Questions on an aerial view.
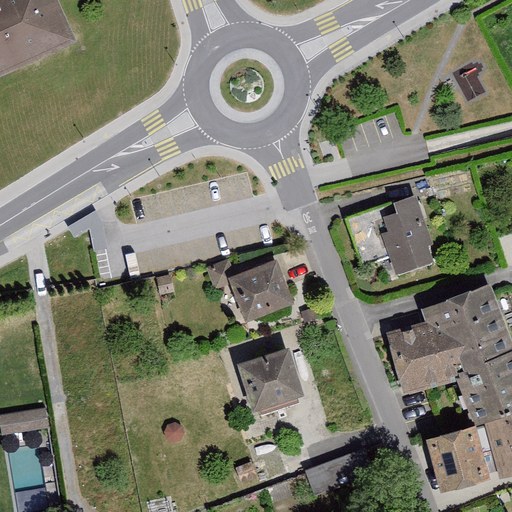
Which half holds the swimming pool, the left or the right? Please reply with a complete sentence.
You can find the swimming pool on the left side of the picture.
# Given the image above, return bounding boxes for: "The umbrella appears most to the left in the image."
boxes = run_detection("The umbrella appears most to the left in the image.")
[2,435,20,453]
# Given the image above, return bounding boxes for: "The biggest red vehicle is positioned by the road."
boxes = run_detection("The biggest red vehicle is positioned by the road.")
[288,266,308,278]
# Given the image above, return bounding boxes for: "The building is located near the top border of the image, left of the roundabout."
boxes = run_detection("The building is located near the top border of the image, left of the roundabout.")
[0,0,76,76]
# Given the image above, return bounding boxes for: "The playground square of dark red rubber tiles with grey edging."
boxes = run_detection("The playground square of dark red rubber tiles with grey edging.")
[440,59,488,103]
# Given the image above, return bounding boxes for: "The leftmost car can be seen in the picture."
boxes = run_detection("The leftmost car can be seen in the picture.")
[35,271,48,296]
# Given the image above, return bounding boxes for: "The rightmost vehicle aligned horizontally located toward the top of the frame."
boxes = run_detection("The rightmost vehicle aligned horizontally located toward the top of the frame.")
[387,187,410,200]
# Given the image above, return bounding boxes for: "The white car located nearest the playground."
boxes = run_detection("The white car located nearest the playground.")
[376,118,390,137]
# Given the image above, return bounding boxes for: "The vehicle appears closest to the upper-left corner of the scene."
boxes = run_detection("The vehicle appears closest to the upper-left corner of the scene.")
[134,199,146,221]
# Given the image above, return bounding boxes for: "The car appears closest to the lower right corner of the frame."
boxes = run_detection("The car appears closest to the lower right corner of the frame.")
[426,468,439,490]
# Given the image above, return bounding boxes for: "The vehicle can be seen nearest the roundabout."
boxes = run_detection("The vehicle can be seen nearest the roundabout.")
[208,179,220,202]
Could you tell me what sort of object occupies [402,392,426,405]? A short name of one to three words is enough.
vehicle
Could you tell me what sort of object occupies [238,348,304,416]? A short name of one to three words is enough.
house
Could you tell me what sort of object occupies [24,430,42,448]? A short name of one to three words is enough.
umbrella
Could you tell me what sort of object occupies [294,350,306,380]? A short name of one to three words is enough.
boat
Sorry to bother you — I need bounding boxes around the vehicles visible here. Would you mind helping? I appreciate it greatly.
[208,179,220,202]
[125,252,140,276]
[376,118,390,137]
[35,271,48,296]
[426,468,439,490]
[288,266,308,278]
[260,222,272,244]
[134,199,146,221]
[402,392,426,405]
[402,406,426,418]
[387,187,410,200]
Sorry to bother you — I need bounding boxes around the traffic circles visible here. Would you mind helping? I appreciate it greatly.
[182,21,312,150]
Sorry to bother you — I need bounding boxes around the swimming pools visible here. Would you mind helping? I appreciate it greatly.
[4,430,60,512]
